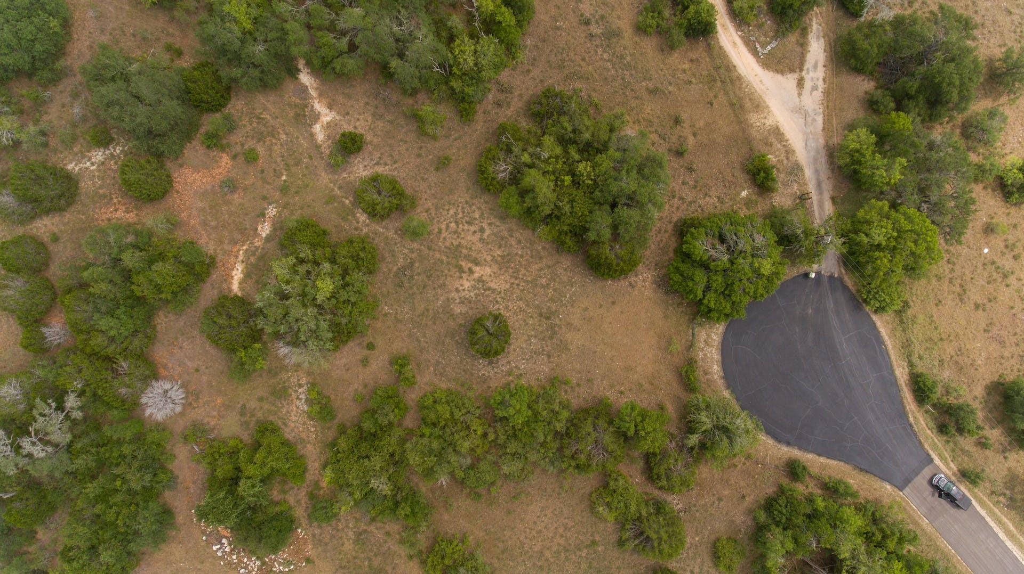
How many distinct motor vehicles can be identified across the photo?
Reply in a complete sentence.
There is 1 motor vehicle in the image.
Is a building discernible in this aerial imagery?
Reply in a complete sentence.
No, this view has no building in it.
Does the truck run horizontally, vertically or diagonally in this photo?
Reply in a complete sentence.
In this picture, the truck lies diagonally.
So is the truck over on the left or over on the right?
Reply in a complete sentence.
The truck is on the right side of the image.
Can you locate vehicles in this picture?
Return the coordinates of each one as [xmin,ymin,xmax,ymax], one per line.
[930,473,975,513]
